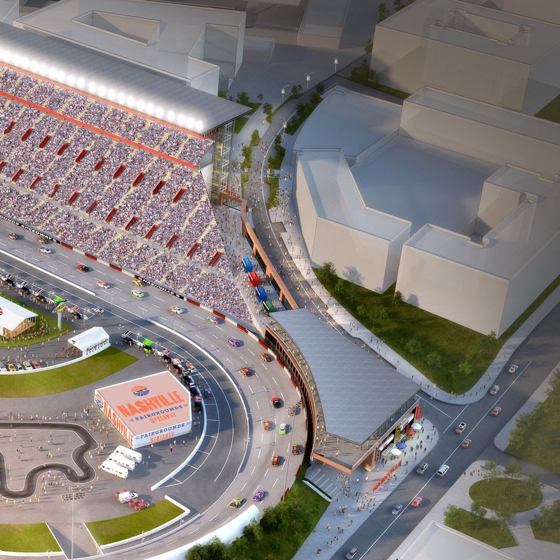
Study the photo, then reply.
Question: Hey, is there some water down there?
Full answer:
No, the scene doesn't show any water.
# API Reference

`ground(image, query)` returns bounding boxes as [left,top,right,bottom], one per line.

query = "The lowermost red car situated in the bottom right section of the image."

[411,495,424,509]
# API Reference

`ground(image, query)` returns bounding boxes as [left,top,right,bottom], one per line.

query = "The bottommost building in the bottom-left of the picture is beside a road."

[94,368,193,449]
